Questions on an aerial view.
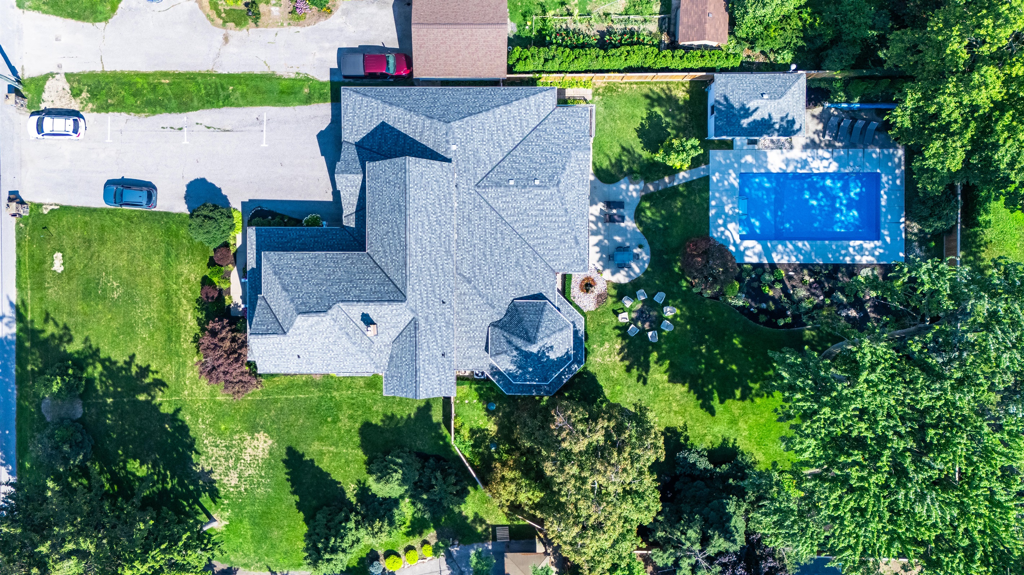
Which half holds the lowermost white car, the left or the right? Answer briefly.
left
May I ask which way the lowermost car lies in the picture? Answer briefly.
horizontally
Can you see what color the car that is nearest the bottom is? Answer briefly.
blue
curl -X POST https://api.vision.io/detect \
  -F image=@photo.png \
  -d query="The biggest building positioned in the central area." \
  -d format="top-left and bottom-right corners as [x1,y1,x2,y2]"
[235,84,591,399]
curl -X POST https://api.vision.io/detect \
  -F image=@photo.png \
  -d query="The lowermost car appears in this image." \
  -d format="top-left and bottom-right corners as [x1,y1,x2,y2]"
[106,182,159,210]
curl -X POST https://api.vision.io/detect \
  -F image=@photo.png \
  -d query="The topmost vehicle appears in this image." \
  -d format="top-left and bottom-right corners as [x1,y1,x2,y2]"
[342,49,411,80]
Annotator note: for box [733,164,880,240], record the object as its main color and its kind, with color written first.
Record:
blue swimming pool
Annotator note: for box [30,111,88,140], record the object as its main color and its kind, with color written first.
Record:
white car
